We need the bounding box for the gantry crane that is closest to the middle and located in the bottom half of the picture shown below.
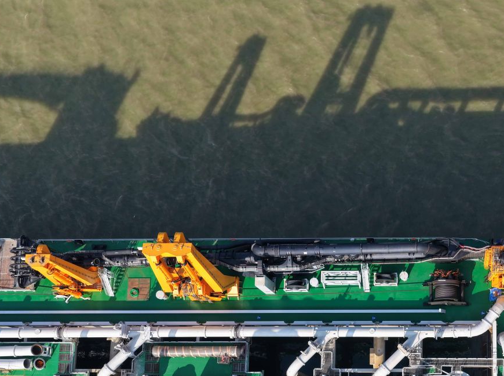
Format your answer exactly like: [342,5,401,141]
[144,235,236,303]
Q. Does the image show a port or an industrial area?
port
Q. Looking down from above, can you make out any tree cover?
No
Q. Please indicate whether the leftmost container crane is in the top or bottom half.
bottom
